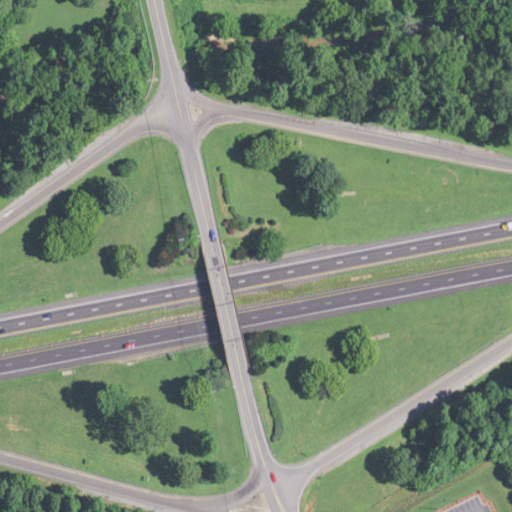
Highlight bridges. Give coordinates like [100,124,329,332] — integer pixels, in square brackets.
[203,246,248,363]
